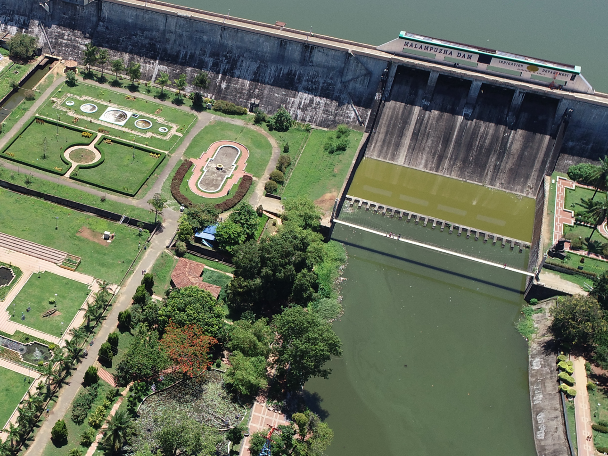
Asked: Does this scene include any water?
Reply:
Yes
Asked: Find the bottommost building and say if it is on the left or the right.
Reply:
left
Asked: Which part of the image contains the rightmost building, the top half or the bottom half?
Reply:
top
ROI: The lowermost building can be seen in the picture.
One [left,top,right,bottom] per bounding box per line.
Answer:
[170,257,222,296]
